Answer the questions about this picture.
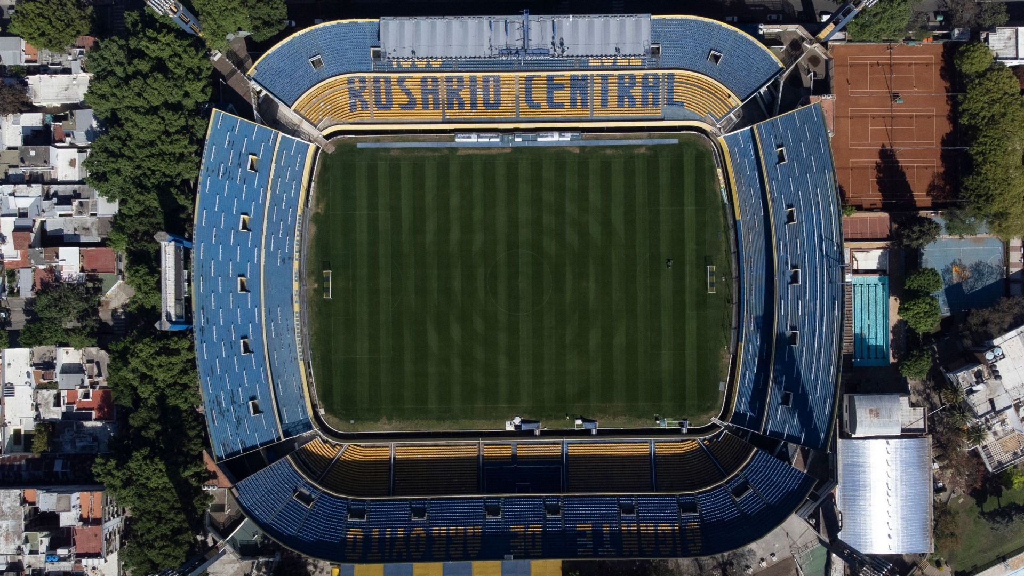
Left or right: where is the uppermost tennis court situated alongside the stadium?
right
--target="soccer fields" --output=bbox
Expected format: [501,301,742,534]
[307,132,738,432]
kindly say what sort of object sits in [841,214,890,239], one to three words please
sports court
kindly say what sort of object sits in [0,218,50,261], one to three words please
house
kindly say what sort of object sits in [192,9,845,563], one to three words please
stadium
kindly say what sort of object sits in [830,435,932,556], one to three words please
building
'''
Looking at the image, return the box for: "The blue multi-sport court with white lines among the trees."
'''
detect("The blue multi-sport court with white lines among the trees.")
[920,237,1008,316]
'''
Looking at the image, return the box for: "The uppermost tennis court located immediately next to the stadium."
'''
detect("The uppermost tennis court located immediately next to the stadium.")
[839,52,944,99]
